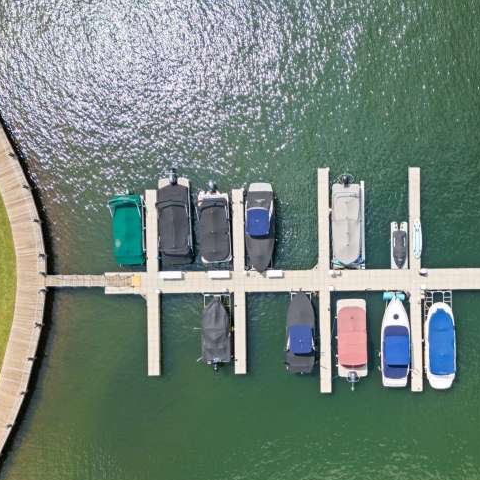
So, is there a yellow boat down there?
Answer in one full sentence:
No, the scene contains no yellow boat.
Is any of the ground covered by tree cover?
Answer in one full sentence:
No, there's no tree cover in this view.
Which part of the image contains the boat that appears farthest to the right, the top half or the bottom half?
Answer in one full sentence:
The bottom half of the photo is where the boat that appears farthest to the right is.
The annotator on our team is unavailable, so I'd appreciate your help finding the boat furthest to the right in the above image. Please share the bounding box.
[423,302,457,390]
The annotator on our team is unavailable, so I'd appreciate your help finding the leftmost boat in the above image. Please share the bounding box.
[106,188,147,267]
